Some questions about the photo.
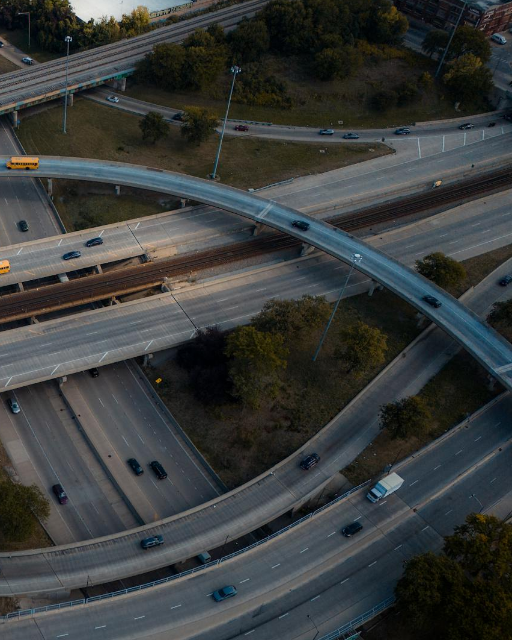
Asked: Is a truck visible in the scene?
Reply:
Yes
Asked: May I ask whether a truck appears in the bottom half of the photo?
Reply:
Yes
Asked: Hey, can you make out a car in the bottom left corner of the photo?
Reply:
Yes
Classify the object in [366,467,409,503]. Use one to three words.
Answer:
truck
